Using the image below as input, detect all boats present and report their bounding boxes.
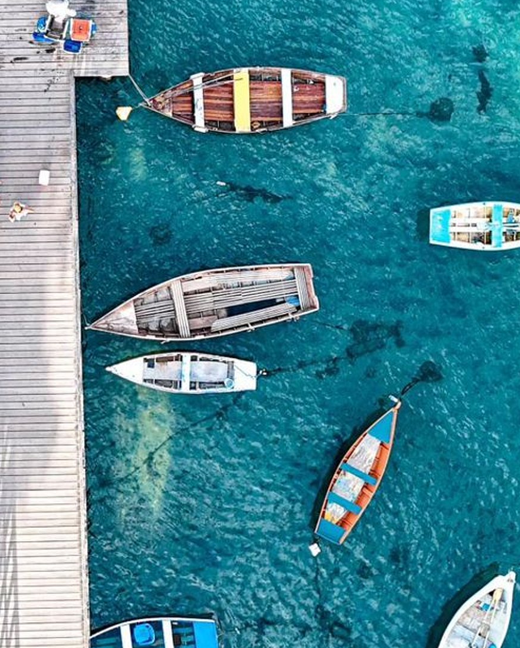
[81,619,220,648]
[425,201,520,252]
[104,352,258,394]
[84,264,320,342]
[137,67,349,133]
[439,569,516,648]
[315,403,401,546]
